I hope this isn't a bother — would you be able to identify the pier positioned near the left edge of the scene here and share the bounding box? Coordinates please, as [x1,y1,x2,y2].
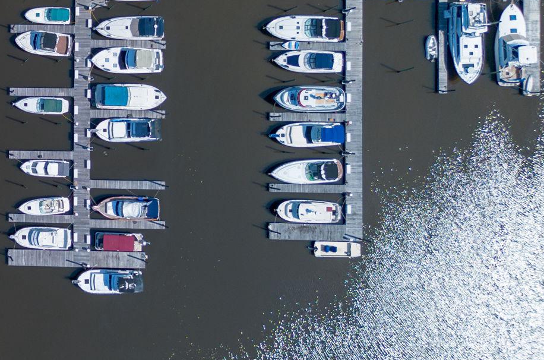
[8,0,166,269]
